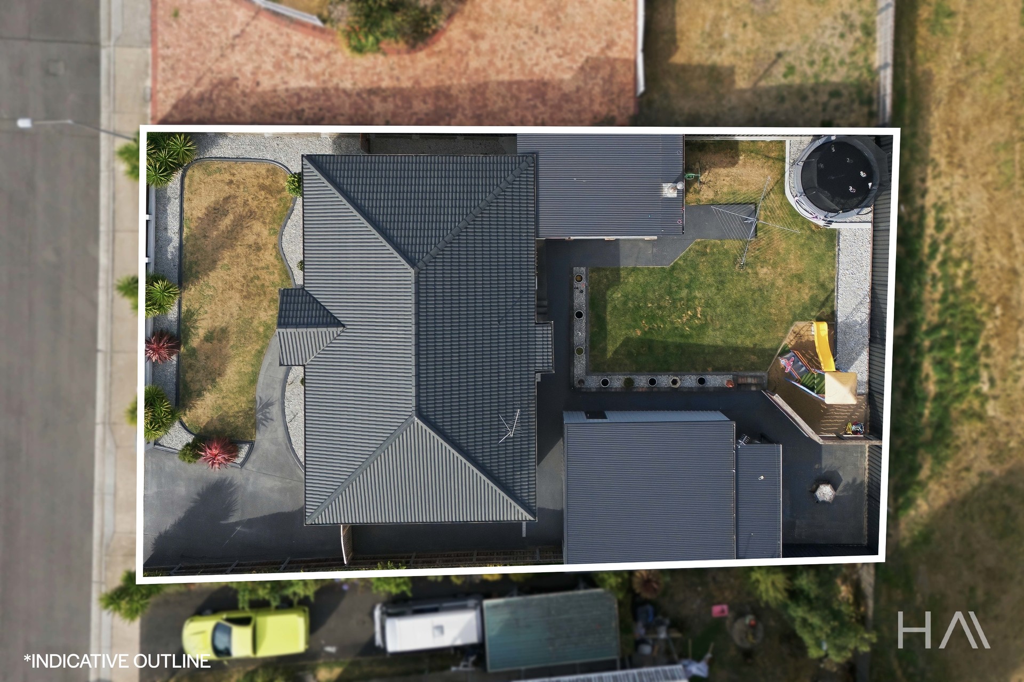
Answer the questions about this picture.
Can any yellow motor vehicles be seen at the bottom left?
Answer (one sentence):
Yes, a yellow motor vehicle is visible at the bottom left.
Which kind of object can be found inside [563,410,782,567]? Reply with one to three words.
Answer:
building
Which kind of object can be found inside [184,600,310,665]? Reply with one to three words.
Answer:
car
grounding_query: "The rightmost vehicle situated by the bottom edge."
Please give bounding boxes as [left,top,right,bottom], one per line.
[374,583,483,653]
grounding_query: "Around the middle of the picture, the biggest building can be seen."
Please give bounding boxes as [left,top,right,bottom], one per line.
[273,152,555,536]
